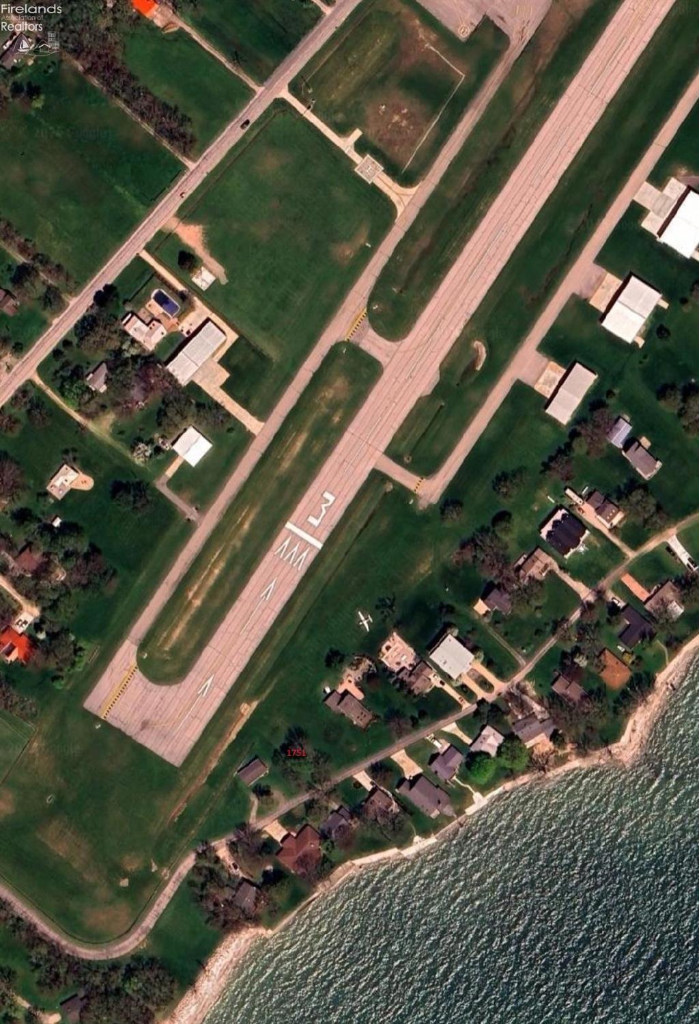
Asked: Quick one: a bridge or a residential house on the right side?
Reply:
residential house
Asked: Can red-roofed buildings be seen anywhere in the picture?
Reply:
Yes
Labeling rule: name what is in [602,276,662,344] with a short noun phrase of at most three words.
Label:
hangar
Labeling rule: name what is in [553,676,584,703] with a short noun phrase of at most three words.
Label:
house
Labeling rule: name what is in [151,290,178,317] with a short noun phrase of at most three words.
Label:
swimming pool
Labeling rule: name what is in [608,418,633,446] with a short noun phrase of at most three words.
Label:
shed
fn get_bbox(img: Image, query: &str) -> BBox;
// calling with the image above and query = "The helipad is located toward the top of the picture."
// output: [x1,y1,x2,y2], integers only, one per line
[354,154,384,184]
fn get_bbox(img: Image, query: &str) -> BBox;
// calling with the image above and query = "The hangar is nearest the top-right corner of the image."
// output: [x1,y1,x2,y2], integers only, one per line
[659,190,699,258]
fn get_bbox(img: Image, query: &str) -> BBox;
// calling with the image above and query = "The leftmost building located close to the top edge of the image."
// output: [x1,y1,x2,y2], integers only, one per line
[0,34,31,72]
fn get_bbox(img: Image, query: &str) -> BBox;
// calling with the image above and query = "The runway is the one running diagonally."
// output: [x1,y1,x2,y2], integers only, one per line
[149,0,676,767]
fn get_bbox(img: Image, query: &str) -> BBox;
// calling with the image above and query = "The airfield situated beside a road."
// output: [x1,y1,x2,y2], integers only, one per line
[83,0,699,767]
